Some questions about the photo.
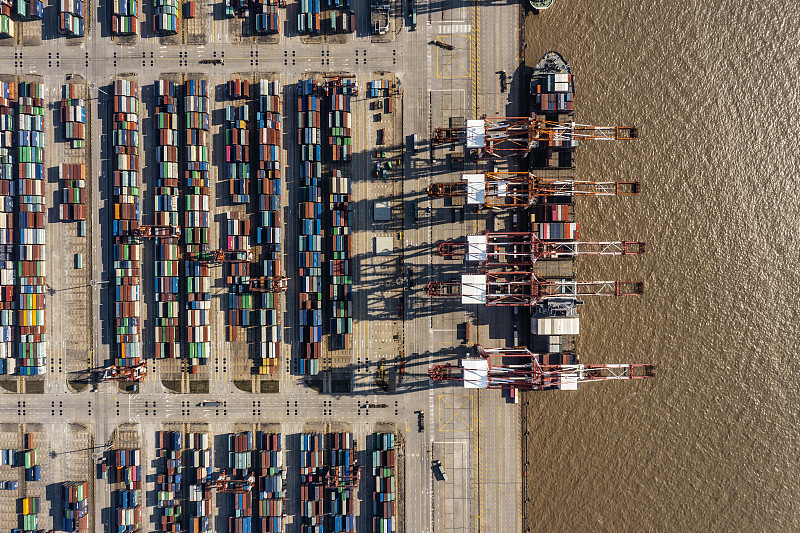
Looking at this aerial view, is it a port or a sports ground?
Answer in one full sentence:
It's a port.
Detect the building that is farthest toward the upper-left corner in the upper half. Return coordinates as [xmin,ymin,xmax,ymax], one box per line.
[371,8,390,35]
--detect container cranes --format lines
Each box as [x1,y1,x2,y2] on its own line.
[139,224,183,241]
[213,248,254,264]
[427,171,641,216]
[326,465,361,488]
[438,230,646,270]
[427,267,645,309]
[103,362,146,381]
[427,342,656,393]
[430,116,638,166]
[324,76,359,98]
[215,468,255,492]
[251,276,288,292]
